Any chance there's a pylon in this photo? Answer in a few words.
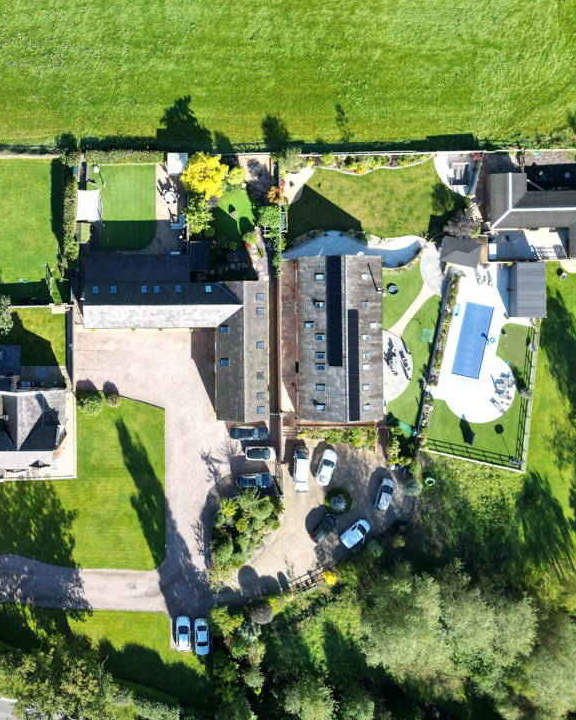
No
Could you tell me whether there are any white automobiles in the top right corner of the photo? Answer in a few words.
No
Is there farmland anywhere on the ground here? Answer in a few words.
Yes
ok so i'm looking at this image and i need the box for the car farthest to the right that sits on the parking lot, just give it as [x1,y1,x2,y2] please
[373,477,395,511]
